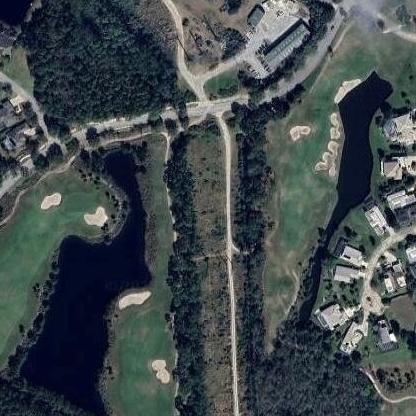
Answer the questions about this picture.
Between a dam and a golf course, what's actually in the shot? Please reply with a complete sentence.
Visible in the photo is a golf course.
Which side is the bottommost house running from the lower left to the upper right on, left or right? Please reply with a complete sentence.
It is on the right.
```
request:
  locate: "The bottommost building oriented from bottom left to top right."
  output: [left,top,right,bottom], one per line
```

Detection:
[338,321,365,352]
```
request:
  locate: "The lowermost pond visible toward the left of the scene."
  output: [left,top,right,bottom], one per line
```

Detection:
[20,149,151,414]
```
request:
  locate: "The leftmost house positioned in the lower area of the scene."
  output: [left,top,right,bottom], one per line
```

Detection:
[312,302,346,335]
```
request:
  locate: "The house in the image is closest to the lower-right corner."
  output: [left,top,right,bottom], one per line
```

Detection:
[375,321,396,354]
